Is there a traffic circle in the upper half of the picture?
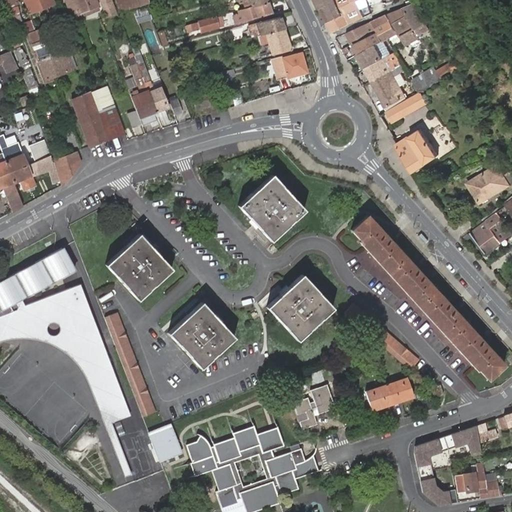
Yes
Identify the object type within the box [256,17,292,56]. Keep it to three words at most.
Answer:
house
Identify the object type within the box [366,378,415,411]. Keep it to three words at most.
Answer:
house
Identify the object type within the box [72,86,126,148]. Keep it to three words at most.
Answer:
building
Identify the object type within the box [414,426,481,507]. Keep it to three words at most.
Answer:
building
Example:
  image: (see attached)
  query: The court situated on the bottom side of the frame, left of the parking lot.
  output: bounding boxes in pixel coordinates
[0,352,88,444]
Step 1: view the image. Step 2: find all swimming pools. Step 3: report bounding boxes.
[140,20,163,56]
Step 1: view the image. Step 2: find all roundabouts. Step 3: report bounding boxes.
[303,94,374,164]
